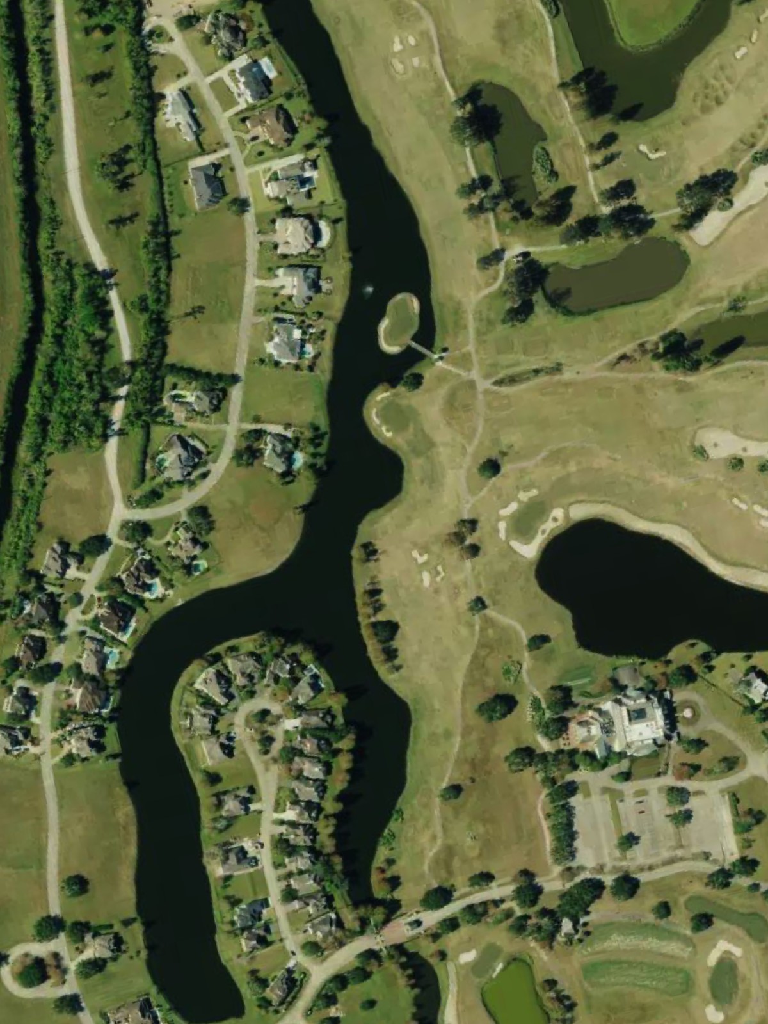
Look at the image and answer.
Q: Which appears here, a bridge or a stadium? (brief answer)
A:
bridge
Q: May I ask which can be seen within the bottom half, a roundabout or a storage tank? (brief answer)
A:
roundabout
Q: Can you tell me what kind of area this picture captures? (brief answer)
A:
golf course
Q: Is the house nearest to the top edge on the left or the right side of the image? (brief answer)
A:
left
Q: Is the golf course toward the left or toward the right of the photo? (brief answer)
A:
right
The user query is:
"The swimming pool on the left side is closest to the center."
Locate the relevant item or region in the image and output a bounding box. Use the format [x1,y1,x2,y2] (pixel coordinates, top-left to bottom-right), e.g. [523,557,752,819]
[291,451,303,470]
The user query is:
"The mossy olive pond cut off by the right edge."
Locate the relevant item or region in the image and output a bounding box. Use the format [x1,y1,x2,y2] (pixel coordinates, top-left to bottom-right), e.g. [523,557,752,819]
[695,310,768,351]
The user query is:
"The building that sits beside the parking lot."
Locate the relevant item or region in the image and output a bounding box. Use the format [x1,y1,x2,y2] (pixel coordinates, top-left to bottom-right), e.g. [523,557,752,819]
[576,683,672,760]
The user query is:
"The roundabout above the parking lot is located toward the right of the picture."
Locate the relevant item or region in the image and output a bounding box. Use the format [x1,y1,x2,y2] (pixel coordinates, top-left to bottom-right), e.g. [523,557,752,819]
[667,690,710,734]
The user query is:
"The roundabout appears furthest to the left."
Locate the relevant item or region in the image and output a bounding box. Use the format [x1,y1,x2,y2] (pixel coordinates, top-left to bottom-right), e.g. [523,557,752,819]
[1,940,73,998]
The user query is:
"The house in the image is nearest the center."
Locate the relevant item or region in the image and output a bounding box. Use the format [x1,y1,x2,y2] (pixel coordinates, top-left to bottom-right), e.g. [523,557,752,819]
[260,430,298,470]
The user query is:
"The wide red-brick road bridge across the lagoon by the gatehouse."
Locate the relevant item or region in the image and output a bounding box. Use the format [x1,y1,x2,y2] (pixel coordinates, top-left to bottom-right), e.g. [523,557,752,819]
[362,912,432,949]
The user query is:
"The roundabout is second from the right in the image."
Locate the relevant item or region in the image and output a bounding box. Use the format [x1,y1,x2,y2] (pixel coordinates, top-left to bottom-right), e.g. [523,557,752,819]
[235,695,286,765]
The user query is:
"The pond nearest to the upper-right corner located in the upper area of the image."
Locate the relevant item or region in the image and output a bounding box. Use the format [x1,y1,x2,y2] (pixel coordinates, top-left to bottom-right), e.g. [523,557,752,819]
[558,0,732,122]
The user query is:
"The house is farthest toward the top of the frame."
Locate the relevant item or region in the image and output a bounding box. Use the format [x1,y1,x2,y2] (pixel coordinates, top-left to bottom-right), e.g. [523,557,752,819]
[206,13,248,57]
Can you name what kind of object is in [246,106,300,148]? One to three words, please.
house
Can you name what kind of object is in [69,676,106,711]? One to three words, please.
house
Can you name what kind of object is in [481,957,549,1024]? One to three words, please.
pond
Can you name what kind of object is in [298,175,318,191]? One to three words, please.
swimming pool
